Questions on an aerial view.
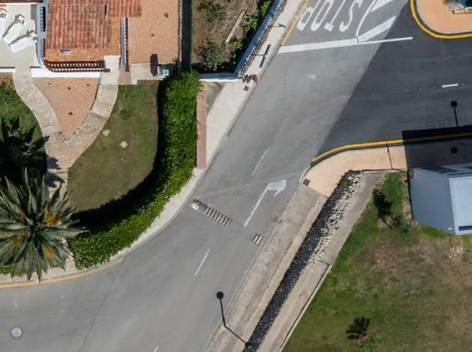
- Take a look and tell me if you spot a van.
No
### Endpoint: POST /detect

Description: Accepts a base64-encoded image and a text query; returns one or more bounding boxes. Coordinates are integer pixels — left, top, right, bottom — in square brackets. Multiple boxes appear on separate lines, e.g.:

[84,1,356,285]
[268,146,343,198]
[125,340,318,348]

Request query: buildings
[413,162,472,235]
[0,0,142,84]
